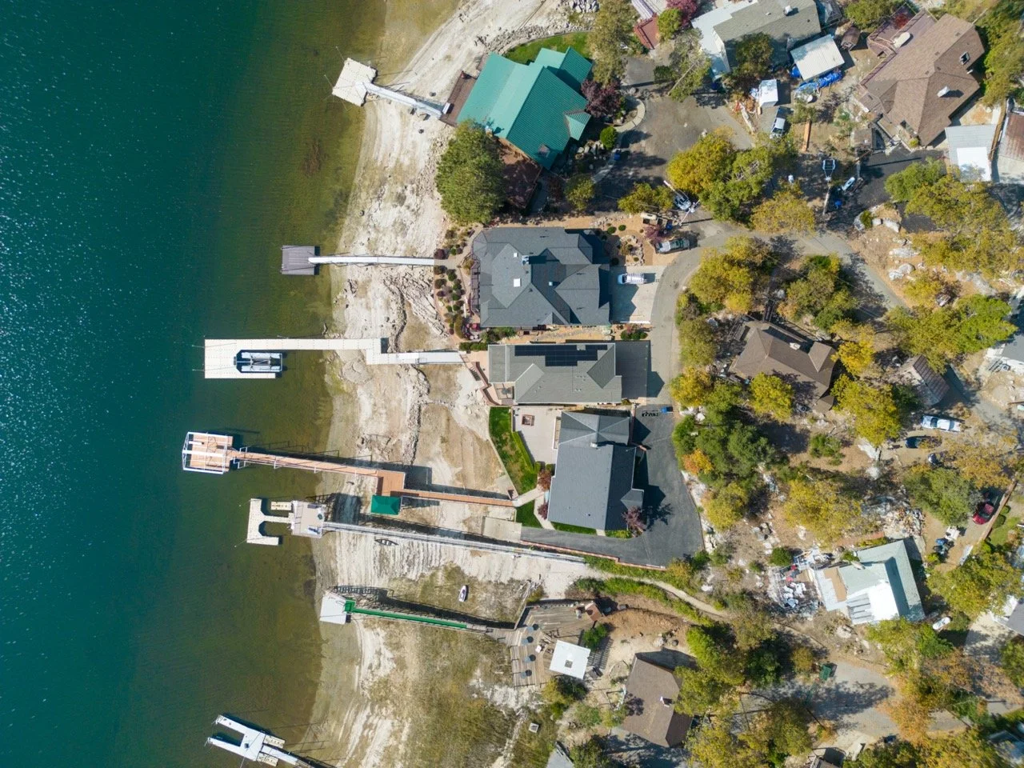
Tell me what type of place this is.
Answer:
residential area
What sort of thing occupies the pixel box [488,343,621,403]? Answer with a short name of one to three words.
house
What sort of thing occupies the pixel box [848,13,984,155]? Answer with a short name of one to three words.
house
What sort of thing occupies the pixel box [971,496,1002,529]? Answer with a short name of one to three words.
car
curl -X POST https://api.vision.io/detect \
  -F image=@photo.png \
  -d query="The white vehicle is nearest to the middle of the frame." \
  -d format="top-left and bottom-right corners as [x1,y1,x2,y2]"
[616,270,650,286]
